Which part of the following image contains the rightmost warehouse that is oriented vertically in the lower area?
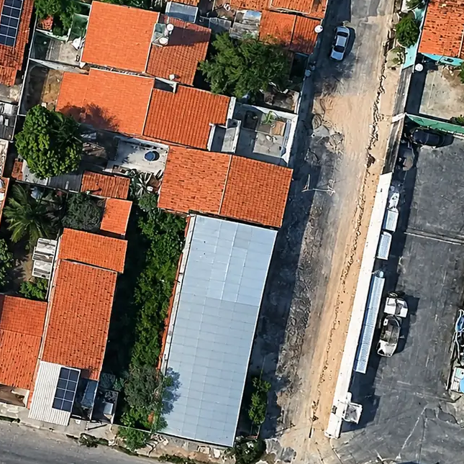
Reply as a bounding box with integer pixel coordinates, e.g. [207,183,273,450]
[148,216,278,447]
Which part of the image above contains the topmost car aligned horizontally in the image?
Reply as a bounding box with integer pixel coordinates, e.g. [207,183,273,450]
[403,126,449,148]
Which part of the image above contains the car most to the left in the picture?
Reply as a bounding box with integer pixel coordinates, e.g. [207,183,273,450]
[327,25,351,62]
